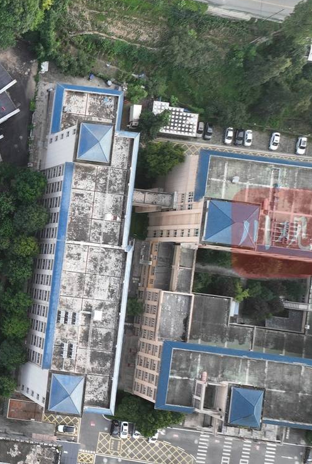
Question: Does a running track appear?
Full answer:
No, no running track is visible in the scene.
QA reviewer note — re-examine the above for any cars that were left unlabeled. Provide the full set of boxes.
[303,446,312,464]
[195,121,206,139]
[131,430,141,441]
[269,132,280,150]
[234,129,244,146]
[146,435,158,446]
[111,419,121,438]
[243,129,254,146]
[203,122,214,140]
[223,126,234,144]
[120,420,128,438]
[295,136,307,155]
